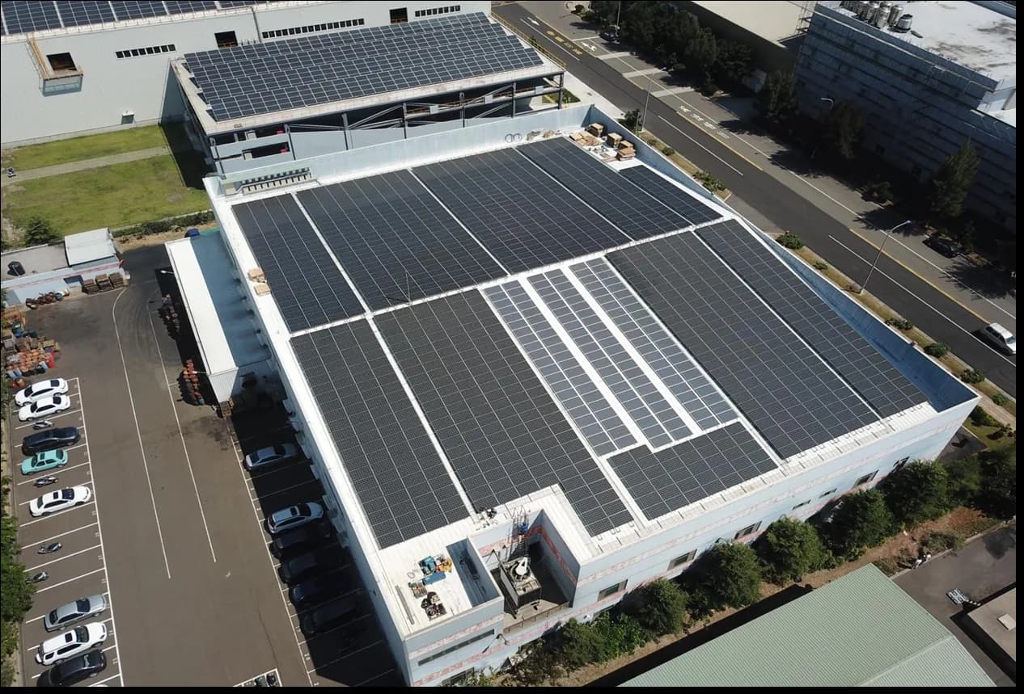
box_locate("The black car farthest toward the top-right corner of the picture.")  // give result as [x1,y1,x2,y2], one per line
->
[924,235,961,257]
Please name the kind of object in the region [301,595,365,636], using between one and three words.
car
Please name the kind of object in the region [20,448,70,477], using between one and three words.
car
